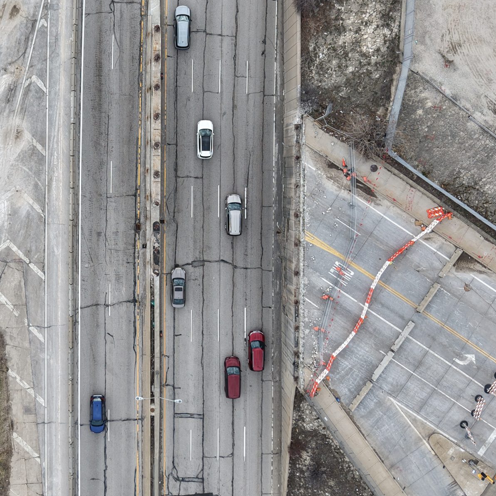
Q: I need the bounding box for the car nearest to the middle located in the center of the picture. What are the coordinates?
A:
[226,194,244,236]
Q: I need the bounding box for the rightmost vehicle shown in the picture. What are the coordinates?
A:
[247,331,267,372]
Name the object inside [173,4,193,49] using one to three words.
car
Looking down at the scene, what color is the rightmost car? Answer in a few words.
red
